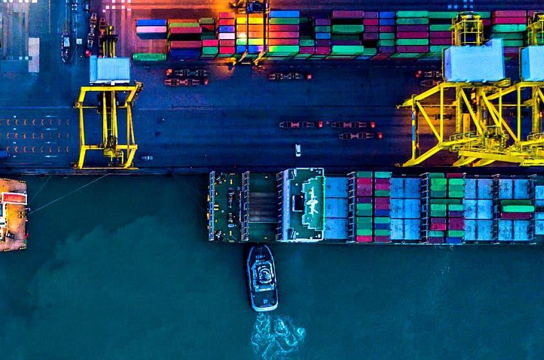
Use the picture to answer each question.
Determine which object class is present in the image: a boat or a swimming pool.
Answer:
boat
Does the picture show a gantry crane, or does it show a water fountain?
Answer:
gantry crane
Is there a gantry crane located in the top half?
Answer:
Yes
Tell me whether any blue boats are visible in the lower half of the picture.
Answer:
Yes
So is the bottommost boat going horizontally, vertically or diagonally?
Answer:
vertically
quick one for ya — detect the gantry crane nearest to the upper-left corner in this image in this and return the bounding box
[72,26,147,168]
